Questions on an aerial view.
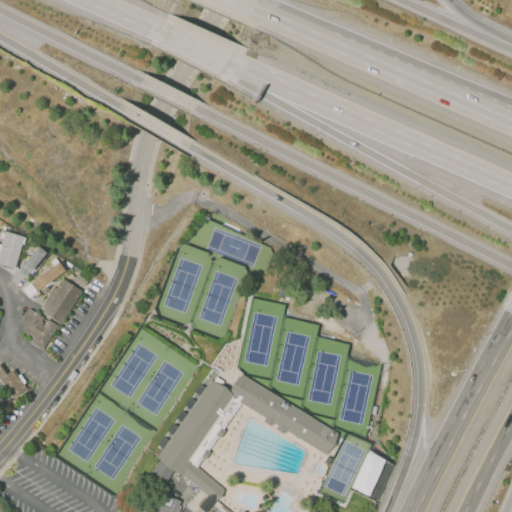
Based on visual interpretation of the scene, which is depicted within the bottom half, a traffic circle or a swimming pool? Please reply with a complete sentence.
It is a swimming pool that can be seen within the bottom half.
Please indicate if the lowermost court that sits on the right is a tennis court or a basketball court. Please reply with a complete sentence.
Specifically, the lowermost court that sits on the right is a tennis court.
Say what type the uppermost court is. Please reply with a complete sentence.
The uppermost court appears to be a tennis court.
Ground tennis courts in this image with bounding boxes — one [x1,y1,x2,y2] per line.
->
[190,257,248,338]
[102,328,171,411]
[272,317,322,400]
[89,412,155,496]
[321,435,372,502]
[60,394,128,475]
[191,216,273,268]
[303,336,351,418]
[335,360,381,438]
[130,348,198,430]
[158,246,212,324]
[238,298,287,378]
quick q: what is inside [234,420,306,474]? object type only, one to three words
swimming pool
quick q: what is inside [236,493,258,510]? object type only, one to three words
swimming pool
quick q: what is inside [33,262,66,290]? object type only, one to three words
house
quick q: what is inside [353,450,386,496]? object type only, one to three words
building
